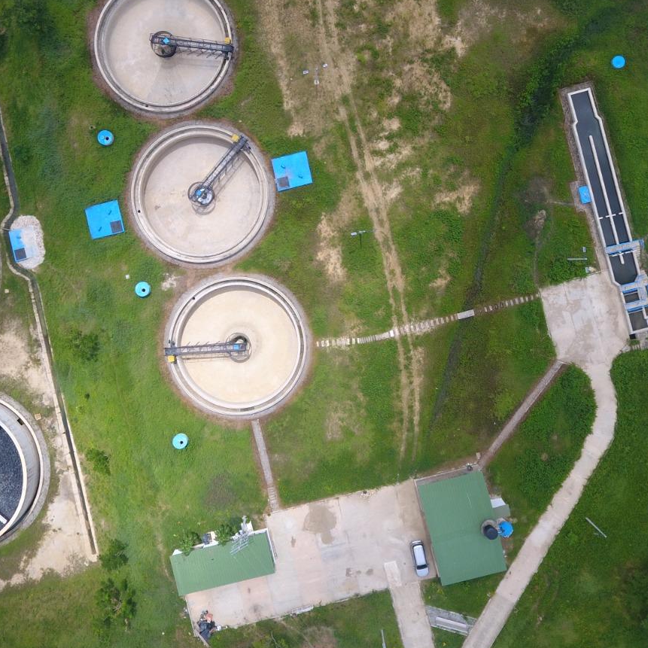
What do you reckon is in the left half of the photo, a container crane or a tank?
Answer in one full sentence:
Looking in the left half of the photo, you will find a tank.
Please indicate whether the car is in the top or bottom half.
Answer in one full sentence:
Seen from above, the car lies in the bottom half of the view.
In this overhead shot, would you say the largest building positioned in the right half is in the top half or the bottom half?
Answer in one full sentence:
You can find the largest building positioned in the right half in the bottom half.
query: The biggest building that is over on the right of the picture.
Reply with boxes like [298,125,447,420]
[419,470,507,587]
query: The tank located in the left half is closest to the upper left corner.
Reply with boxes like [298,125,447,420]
[94,0,235,112]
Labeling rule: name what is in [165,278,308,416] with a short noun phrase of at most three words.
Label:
storage tank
